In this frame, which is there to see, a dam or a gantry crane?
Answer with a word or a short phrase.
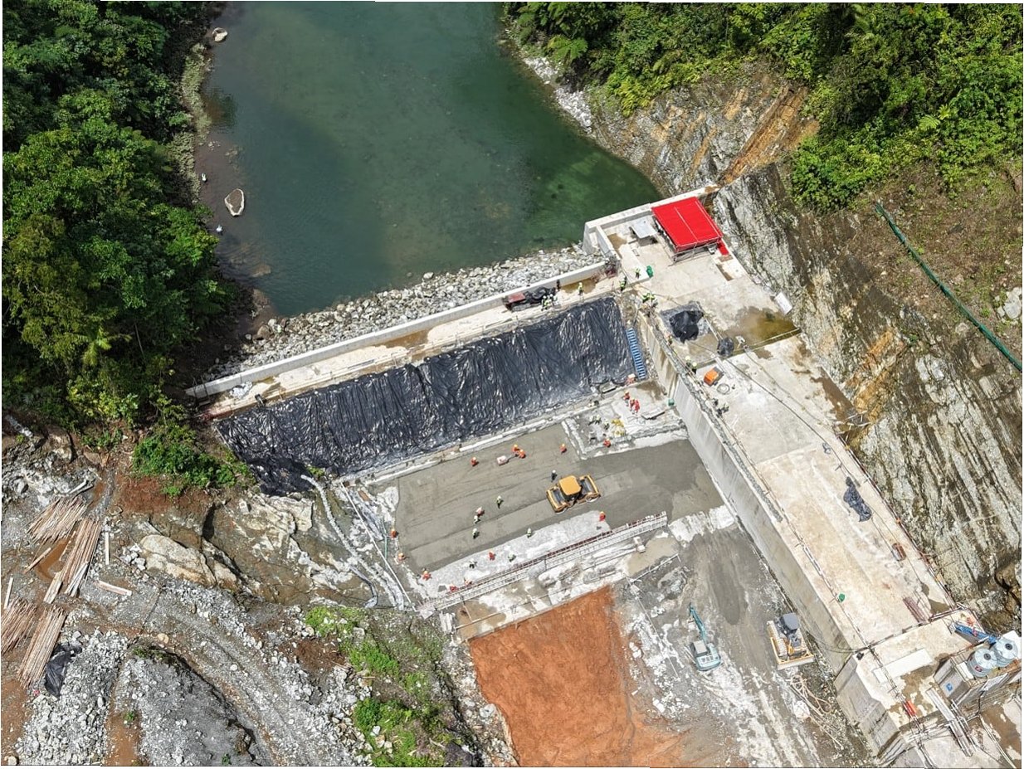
dam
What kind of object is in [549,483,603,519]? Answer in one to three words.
work vehicle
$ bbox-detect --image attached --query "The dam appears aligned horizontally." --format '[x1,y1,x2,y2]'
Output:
[196,263,657,501]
